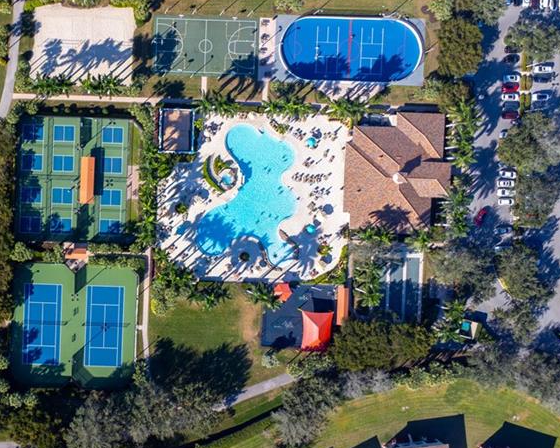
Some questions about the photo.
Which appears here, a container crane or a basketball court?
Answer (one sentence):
Looking from above, you can make out a basketball court.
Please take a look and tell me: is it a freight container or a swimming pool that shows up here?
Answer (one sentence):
The one in the frame is a swimming pool.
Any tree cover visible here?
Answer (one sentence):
Yes, there is tree cover in the image.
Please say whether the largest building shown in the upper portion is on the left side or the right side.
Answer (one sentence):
The largest building shown in the upper portion is on the right side of the image.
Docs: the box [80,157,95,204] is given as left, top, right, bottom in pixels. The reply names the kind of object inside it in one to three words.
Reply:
building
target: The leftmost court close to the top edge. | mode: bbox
[27,4,136,81]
